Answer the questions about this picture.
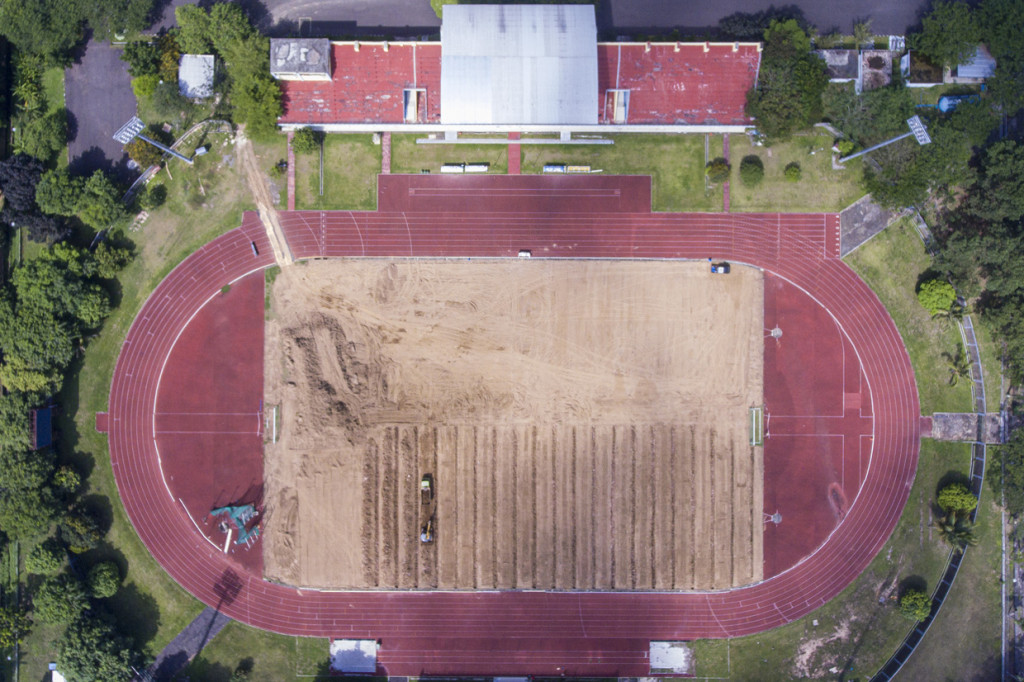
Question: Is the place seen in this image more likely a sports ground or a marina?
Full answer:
It's a sports ground.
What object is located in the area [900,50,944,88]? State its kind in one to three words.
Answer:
house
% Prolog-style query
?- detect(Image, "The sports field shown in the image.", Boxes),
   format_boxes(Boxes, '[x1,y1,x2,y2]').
[264,260,765,590]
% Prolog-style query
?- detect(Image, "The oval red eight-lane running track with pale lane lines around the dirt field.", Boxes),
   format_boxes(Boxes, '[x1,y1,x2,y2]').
[96,174,932,639]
